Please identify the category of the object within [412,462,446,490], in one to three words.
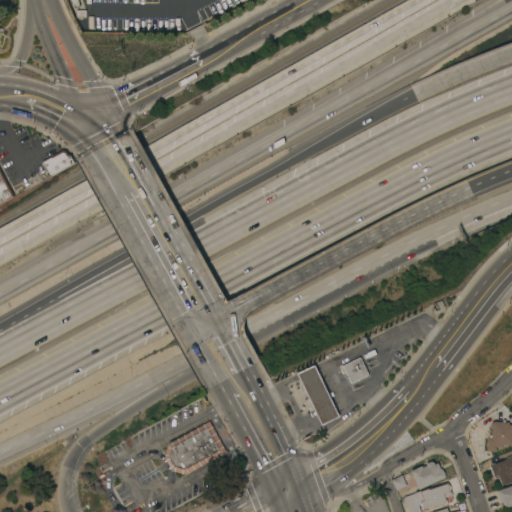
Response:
house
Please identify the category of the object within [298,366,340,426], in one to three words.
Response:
building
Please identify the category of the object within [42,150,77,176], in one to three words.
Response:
building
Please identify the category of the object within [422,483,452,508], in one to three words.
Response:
house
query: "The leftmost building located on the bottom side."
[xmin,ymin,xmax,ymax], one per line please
[166,422,227,474]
